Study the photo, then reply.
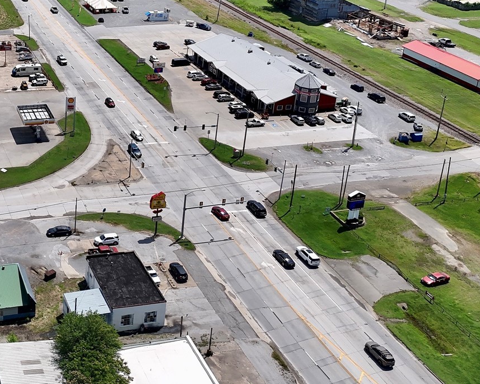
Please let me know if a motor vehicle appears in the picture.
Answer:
Yes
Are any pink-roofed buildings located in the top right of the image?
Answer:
Yes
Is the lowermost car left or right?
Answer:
right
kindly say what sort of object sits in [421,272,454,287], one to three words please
car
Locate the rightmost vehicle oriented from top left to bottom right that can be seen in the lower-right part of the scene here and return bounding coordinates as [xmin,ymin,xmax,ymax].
[362,337,399,368]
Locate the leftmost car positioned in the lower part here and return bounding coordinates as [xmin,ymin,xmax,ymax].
[46,226,74,239]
